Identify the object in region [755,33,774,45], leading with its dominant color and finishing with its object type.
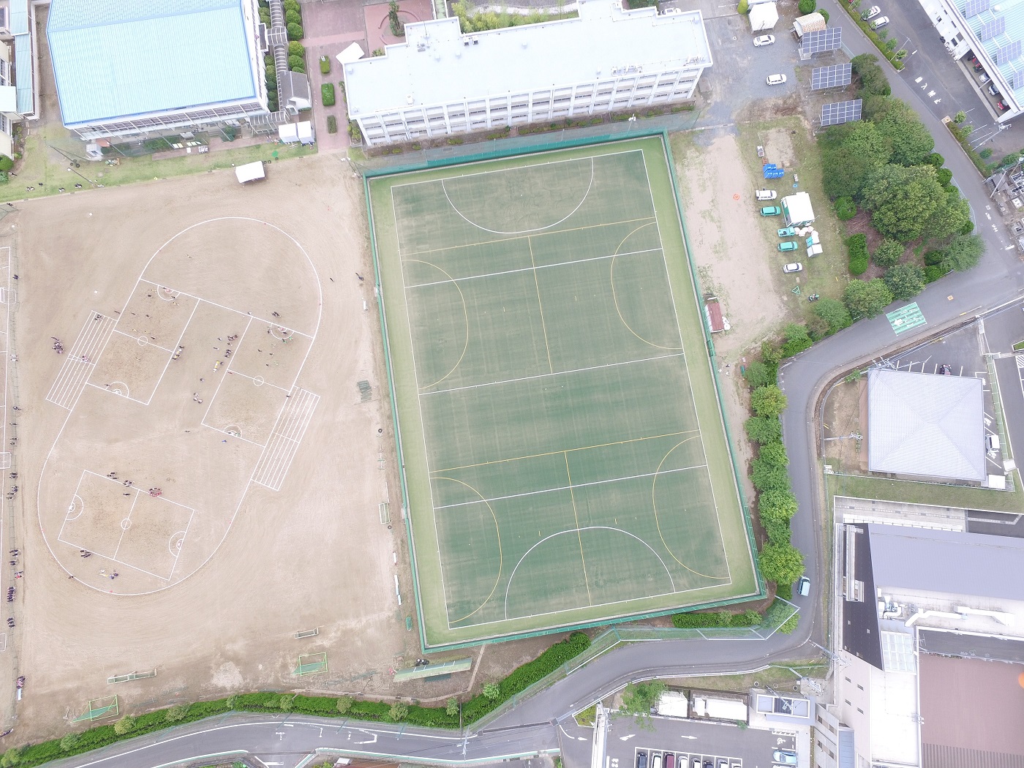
white vehicle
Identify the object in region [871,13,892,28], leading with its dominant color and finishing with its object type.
white car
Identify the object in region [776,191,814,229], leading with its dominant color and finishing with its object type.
white tent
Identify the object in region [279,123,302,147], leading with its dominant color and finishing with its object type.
white tent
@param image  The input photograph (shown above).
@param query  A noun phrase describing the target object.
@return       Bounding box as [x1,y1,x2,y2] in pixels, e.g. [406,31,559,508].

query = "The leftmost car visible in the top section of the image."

[660,4,678,16]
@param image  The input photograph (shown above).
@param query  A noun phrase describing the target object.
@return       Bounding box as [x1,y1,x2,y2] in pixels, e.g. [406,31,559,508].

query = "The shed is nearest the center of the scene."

[706,302,724,333]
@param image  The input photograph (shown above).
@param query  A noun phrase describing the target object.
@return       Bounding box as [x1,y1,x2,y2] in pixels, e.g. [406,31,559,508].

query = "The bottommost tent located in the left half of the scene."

[236,161,265,186]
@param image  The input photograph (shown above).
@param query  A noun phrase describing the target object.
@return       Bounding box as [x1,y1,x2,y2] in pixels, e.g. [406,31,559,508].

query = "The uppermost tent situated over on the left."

[337,43,366,64]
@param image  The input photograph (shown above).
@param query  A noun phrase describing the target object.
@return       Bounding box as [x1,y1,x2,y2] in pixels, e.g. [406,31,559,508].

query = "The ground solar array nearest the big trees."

[818,99,862,128]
